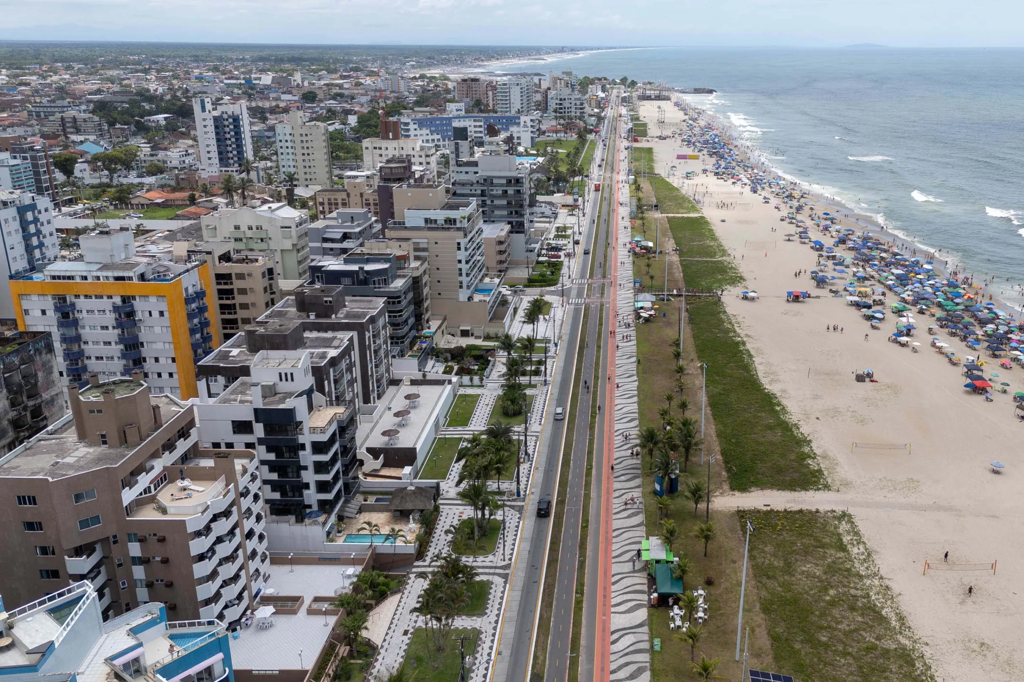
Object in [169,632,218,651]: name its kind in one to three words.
swimming pool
